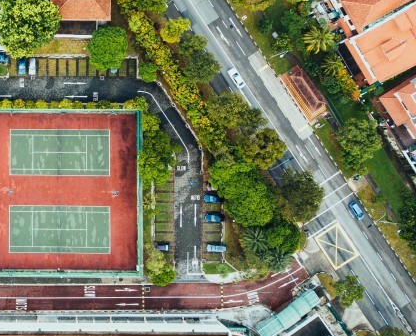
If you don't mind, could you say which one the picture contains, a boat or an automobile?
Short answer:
automobile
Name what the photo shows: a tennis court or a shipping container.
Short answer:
tennis court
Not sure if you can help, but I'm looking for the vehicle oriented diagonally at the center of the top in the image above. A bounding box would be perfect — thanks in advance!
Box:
[228,69,245,88]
